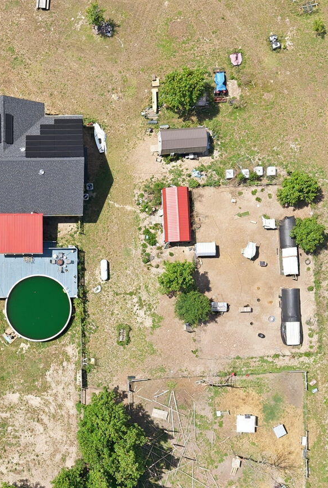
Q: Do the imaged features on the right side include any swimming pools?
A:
No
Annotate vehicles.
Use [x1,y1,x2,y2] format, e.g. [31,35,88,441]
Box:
[213,63,230,101]
[269,32,283,50]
